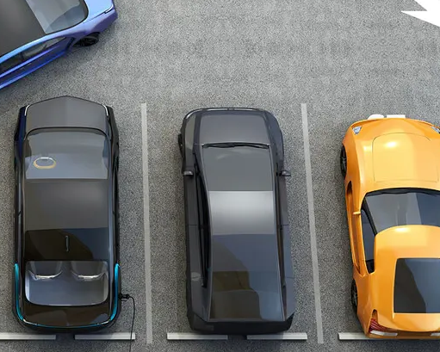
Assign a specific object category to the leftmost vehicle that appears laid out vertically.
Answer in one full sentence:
The leftmost vehicle that appears laid out vertically is an automobile.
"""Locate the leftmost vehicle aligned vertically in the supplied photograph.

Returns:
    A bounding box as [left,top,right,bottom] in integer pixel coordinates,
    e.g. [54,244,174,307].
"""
[14,95,118,333]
